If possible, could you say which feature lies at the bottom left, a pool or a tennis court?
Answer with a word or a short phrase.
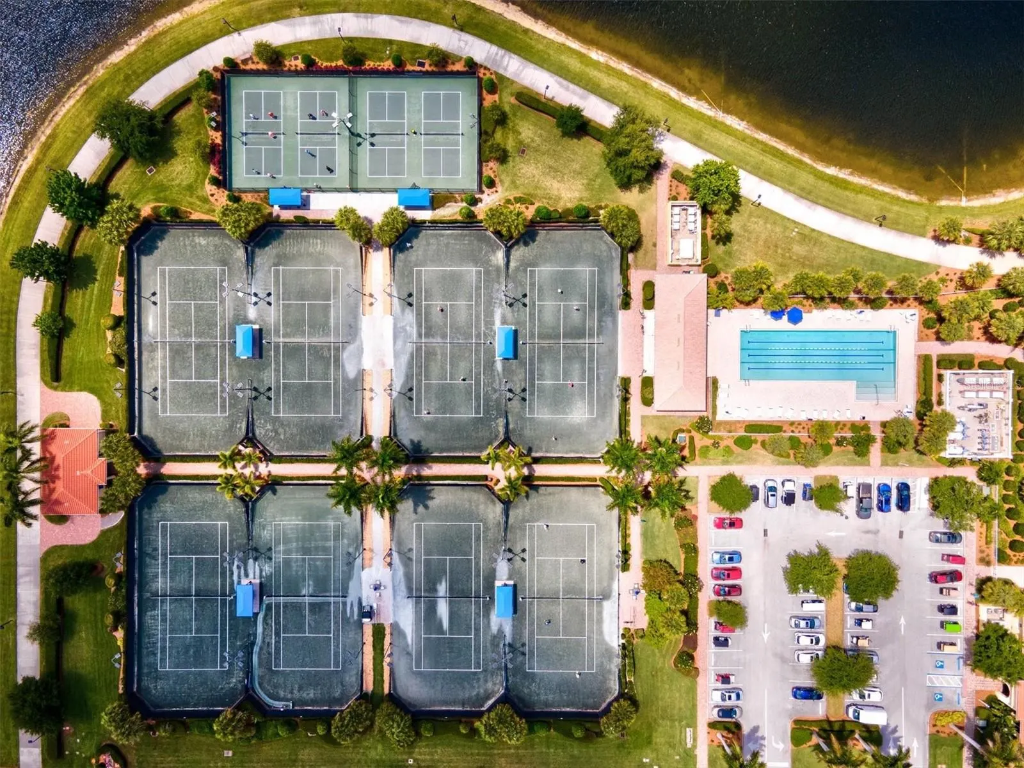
tennis court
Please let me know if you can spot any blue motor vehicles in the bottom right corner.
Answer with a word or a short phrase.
Yes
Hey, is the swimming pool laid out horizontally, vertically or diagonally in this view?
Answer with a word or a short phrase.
horizontally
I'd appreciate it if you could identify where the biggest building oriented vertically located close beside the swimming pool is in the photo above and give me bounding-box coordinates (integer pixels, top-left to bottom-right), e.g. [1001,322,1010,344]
[654,274,708,411]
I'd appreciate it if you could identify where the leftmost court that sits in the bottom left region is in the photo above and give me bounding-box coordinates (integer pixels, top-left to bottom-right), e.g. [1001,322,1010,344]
[136,487,249,709]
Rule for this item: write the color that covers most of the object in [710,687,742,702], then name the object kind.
white car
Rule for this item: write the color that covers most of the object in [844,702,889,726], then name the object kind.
white vehicle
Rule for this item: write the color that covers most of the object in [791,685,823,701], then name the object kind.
blue car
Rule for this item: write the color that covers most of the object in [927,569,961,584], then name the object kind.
red car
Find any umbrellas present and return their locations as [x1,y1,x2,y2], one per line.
[786,307,802,325]
[768,308,782,322]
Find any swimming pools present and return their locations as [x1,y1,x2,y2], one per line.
[739,325,898,405]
